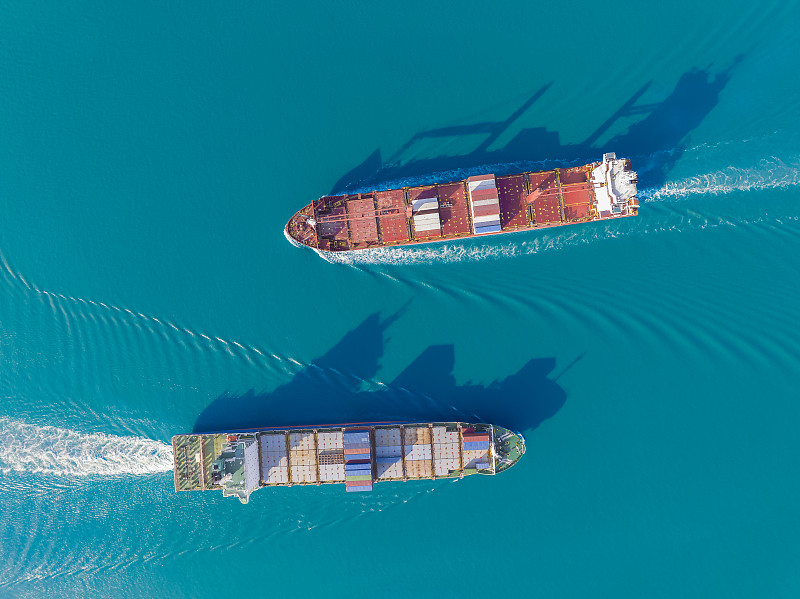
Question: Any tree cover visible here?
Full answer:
No, no tree cover is visible.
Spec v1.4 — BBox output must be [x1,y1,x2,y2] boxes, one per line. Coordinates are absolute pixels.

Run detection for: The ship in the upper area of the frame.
[284,151,642,251]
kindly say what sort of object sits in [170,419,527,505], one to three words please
ship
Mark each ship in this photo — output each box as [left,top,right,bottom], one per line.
[284,151,642,251]
[170,419,527,505]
